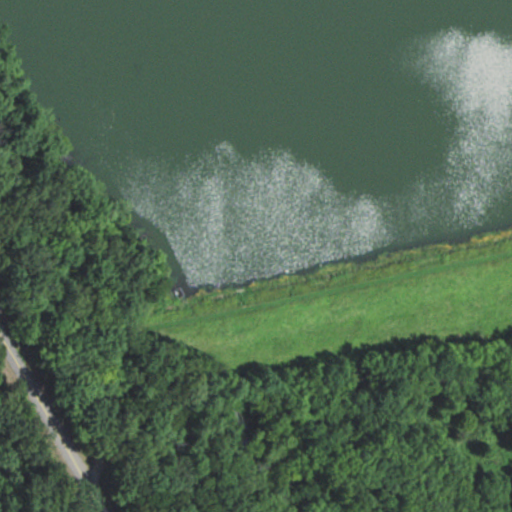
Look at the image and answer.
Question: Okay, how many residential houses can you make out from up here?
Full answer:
No residential houses are visible.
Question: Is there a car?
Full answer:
No, I can't see a single car in this photo.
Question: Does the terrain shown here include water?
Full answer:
Yes, water shows up in the scene.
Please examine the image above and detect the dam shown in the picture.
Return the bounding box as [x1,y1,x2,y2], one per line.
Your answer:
[128,223,512,382]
